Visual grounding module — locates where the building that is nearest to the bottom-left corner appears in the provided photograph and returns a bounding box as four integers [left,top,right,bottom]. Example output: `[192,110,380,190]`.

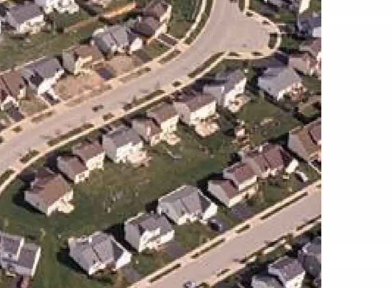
[0,242,43,288]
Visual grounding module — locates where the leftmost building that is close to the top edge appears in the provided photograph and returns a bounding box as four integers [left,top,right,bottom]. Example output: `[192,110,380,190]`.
[0,5,45,42]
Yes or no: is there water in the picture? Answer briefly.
No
